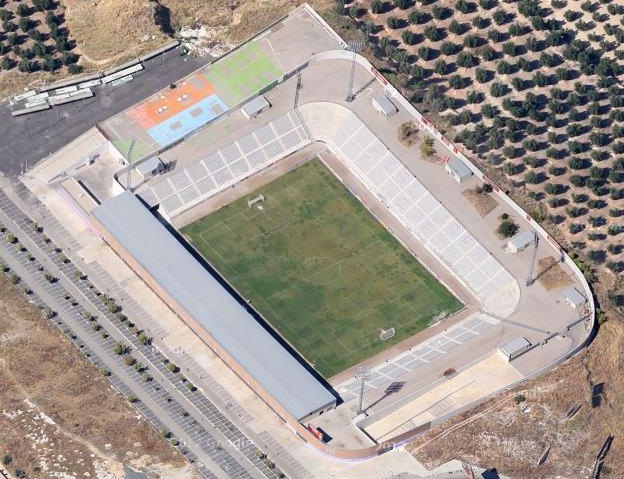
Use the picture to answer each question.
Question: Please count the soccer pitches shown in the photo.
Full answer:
The count comes to 1 soccer pitch.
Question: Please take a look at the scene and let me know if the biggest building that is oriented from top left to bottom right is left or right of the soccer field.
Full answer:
To the left of the soccer field is where the biggest building that is oriented from top left to bottom right appears.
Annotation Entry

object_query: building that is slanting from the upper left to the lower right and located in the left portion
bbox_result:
[62,177,100,213]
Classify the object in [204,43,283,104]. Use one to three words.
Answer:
sports court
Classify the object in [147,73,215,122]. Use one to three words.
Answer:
sports court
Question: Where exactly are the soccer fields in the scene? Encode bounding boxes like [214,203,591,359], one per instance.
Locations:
[179,157,466,381]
